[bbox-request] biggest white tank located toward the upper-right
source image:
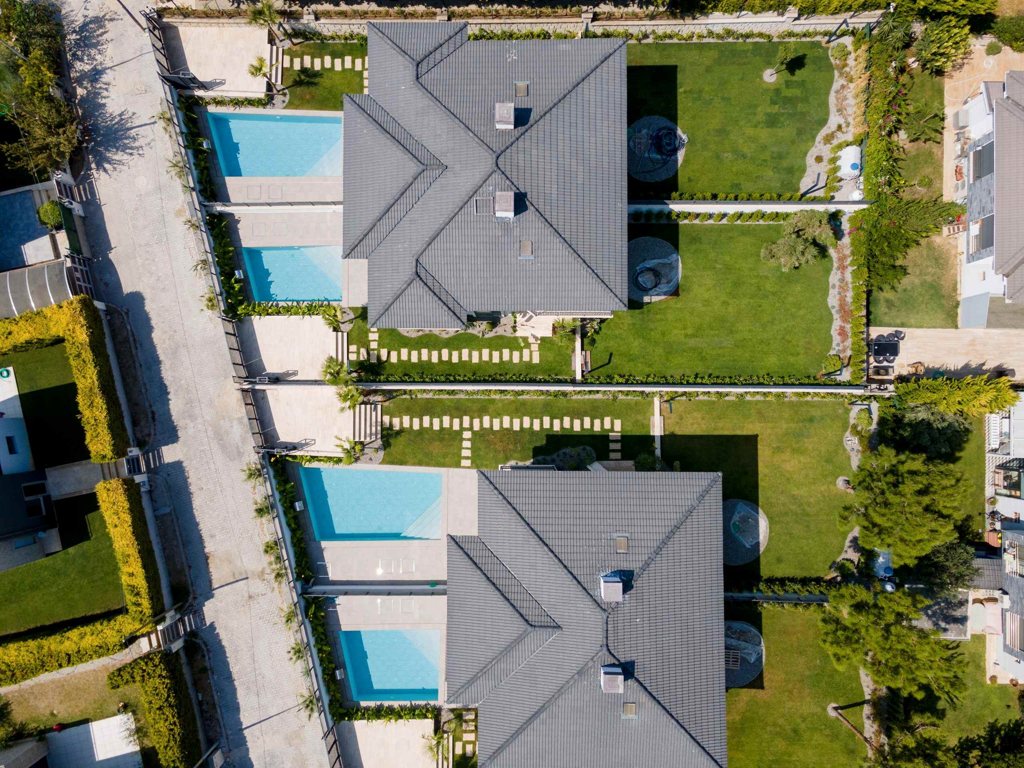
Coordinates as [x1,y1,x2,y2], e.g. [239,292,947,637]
[834,146,863,190]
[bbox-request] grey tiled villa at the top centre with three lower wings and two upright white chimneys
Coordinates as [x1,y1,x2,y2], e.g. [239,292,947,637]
[340,18,630,328]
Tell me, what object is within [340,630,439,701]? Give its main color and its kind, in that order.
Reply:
blue swimming pool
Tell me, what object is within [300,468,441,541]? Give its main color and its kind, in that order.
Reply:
blue swimming pool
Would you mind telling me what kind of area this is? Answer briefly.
residential area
